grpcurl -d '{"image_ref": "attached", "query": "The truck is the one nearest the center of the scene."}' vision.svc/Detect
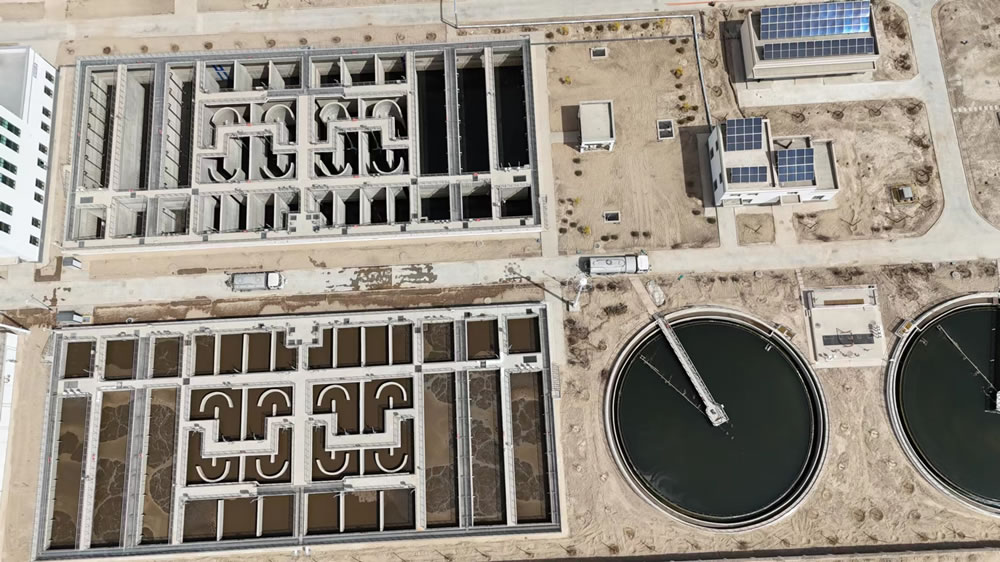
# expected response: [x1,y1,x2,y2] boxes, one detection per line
[580,249,649,274]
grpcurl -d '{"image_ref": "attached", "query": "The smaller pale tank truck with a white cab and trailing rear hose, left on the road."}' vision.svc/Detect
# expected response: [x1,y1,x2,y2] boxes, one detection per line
[229,269,286,290]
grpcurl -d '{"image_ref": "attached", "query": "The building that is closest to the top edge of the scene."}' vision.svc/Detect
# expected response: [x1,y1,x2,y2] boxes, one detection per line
[740,0,886,79]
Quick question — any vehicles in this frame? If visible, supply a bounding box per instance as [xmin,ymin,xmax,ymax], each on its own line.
[229,269,286,290]
[580,249,649,274]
